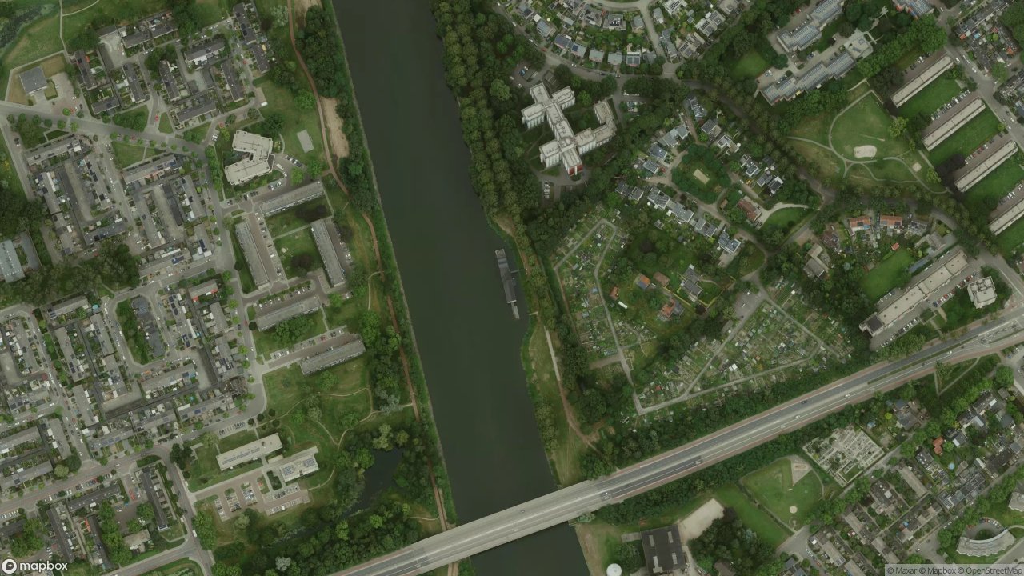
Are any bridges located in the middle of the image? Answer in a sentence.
No, I can find no bridge in the middle of the image.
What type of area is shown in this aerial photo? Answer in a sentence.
The area seen from above is a residential area.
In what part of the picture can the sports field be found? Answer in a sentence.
The sports field sits in the bottom right section of the image.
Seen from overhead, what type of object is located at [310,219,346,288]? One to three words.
building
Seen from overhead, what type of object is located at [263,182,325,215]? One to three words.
building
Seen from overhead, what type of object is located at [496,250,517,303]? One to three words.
ship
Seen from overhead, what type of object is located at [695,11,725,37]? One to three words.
house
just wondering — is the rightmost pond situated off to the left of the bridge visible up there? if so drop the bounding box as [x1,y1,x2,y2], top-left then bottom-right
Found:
[303,448,402,535]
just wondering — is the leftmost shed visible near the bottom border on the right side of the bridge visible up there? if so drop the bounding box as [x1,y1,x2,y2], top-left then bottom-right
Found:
[621,524,686,575]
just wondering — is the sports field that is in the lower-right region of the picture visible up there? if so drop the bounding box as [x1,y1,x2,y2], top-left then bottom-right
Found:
[741,456,822,531]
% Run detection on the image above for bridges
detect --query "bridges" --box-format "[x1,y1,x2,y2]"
[406,480,599,575]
